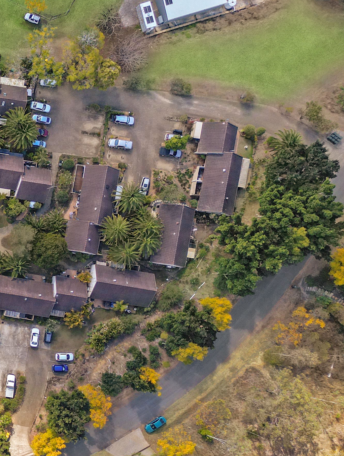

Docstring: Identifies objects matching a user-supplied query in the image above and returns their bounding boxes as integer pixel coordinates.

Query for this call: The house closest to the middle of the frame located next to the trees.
[147,204,202,268]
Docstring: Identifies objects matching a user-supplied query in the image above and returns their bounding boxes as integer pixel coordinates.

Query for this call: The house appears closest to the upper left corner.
[0,77,30,125]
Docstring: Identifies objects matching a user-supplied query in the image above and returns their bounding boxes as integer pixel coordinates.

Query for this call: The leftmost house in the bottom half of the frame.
[0,275,59,320]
